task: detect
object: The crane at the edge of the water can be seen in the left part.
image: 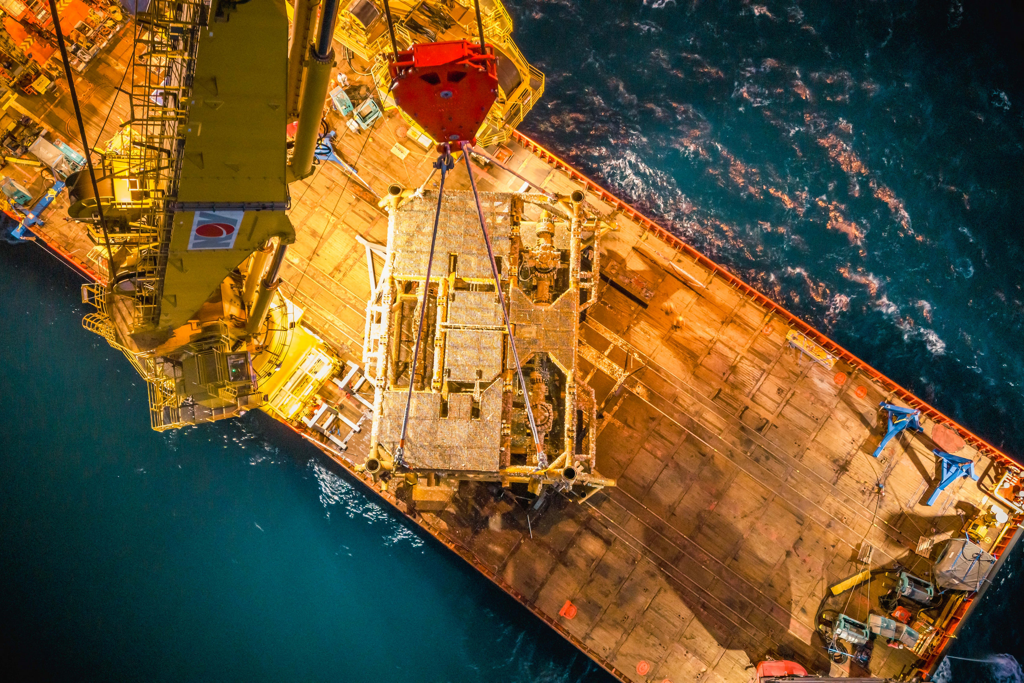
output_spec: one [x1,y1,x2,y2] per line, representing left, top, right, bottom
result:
[52,0,342,432]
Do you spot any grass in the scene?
No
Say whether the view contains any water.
Yes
